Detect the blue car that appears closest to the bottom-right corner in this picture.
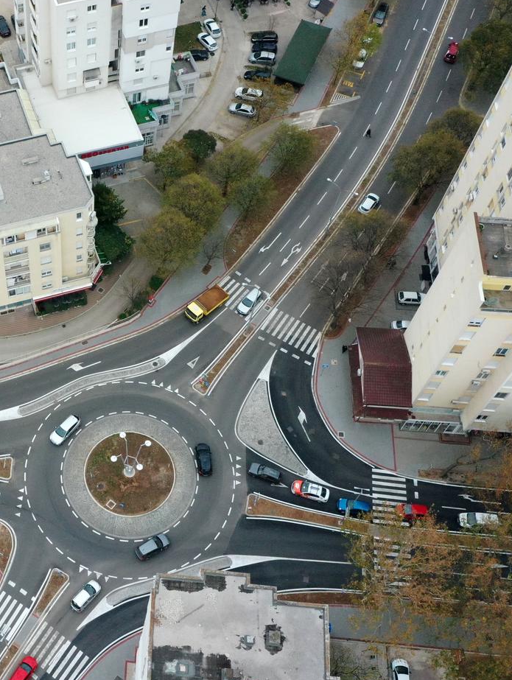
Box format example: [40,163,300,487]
[336,497,373,519]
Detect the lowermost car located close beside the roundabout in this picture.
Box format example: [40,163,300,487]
[66,577,105,615]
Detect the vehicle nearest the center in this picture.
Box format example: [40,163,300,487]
[236,286,265,316]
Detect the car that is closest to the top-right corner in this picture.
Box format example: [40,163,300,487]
[443,41,462,63]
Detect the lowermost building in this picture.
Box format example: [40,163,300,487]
[136,569,341,680]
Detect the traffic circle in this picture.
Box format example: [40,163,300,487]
[24,380,236,579]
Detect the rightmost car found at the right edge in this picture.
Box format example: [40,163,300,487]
[456,509,503,530]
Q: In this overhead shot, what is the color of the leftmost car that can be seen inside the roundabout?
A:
white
